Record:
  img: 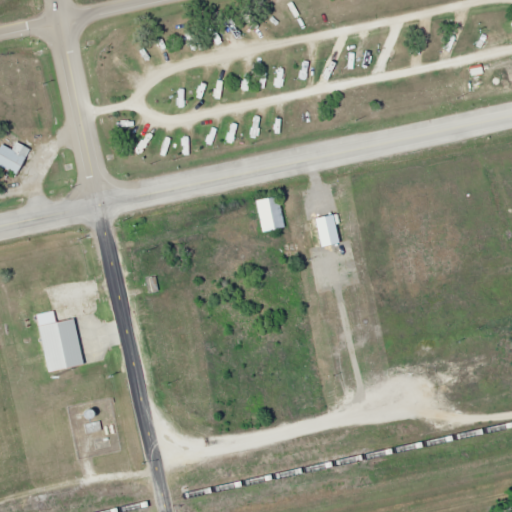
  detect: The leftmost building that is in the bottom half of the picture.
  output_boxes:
[37,312,84,372]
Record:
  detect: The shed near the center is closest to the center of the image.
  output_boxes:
[255,196,286,234]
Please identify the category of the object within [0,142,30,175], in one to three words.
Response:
house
